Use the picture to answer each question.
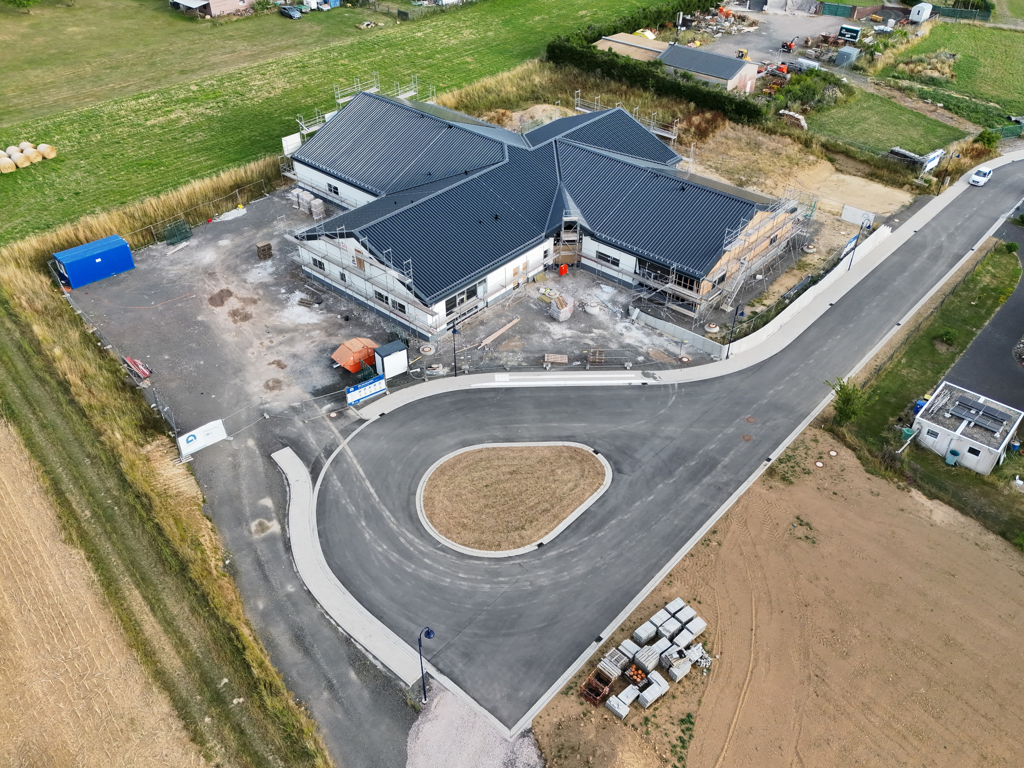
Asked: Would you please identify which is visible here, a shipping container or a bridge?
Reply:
shipping container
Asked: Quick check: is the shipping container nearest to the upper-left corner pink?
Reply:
No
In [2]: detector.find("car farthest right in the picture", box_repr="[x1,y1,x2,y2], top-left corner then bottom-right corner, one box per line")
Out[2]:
[970,167,997,184]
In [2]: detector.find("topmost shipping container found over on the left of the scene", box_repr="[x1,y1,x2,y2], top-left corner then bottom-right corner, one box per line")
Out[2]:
[53,236,134,289]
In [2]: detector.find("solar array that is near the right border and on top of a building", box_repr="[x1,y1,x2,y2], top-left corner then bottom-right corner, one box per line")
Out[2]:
[936,397,1008,440]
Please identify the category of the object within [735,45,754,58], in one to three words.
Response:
vehicle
